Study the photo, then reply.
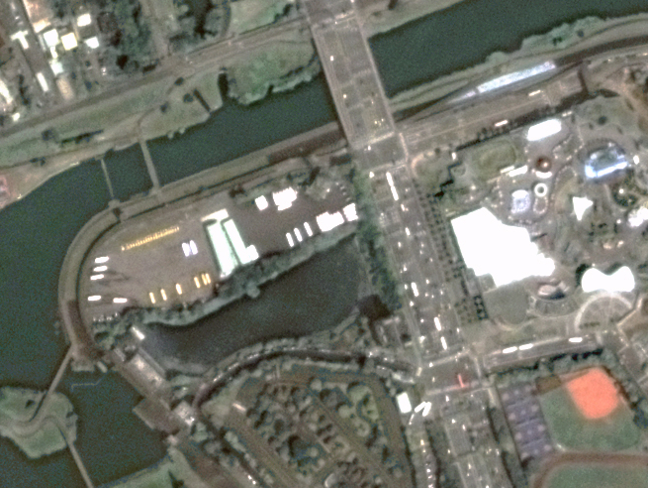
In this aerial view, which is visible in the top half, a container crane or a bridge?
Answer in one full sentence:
The feature located in the top half is a bridge.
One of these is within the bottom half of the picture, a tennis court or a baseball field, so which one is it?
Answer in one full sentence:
The feature located within the bottom half of the picture is a baseball field.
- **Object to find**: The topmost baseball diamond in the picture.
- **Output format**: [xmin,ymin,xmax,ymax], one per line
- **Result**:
[542,368,639,451]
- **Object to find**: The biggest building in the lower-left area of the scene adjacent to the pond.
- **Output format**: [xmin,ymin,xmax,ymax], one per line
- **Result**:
[124,354,164,394]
